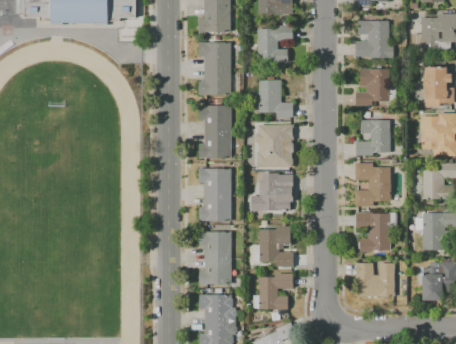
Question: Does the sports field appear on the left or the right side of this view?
left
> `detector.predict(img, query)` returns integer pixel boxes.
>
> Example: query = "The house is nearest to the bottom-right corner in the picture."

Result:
[422,262,456,301]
